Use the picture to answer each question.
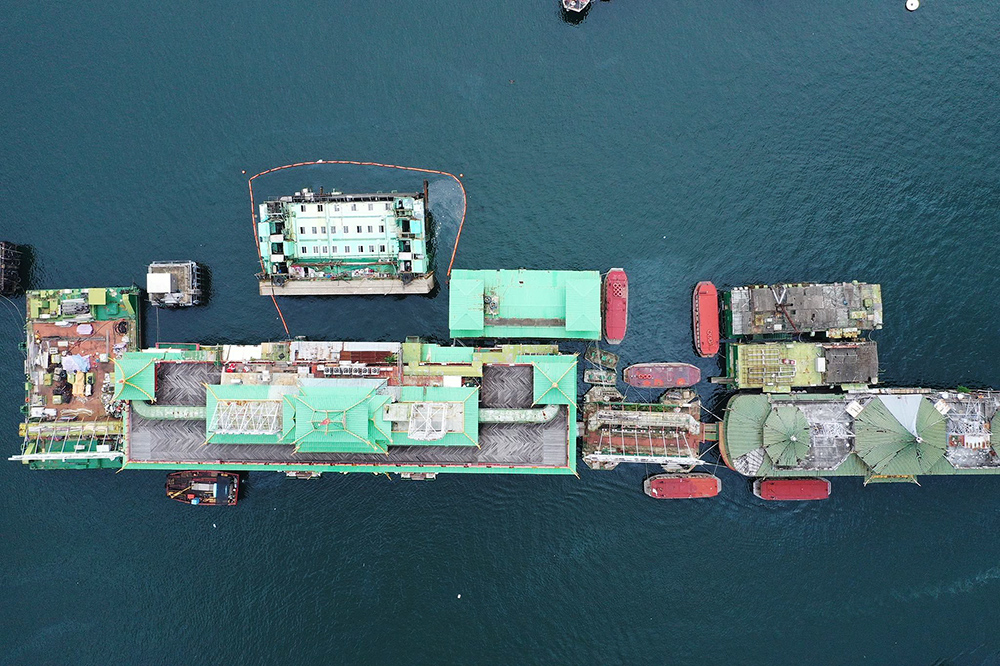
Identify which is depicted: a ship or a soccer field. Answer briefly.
ship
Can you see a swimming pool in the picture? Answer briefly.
No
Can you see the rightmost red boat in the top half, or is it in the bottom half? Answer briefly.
bottom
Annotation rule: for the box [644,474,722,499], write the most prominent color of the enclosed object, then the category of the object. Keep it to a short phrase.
red boat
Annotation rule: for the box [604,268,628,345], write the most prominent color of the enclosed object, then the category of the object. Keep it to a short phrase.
red boat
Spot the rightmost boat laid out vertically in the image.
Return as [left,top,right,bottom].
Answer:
[692,280,720,358]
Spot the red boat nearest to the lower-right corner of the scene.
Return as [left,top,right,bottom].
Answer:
[752,476,832,501]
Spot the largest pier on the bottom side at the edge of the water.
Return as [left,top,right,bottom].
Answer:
[582,386,705,472]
